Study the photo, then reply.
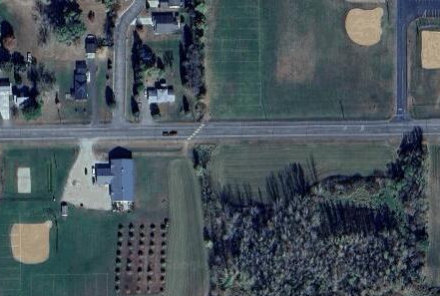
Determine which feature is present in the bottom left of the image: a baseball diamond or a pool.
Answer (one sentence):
There is a baseball diamond in the bottom left of the image.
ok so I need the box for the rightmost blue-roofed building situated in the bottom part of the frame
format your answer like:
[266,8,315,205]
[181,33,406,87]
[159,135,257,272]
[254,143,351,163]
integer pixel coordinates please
[94,158,134,201]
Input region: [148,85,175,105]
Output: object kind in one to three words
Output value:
house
